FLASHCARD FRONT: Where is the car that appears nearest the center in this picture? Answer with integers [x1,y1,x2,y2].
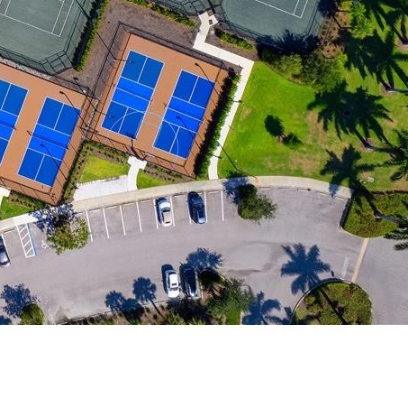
[188,193,206,224]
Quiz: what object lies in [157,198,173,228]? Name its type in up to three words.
car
